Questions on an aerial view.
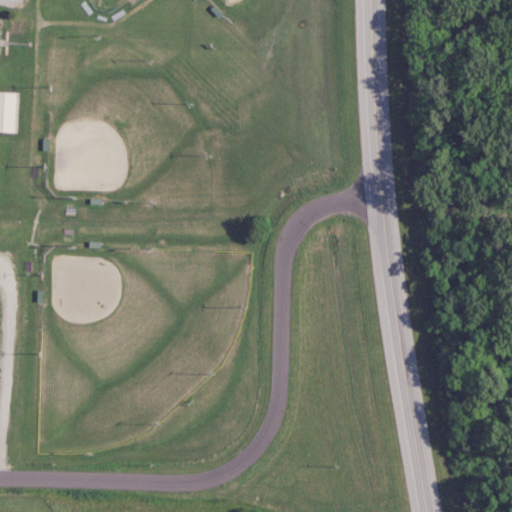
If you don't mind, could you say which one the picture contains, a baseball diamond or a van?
baseball diamond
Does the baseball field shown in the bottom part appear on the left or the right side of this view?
left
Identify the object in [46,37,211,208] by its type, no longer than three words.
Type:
baseball field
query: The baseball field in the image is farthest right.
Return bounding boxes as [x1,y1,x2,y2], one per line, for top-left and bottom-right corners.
[211,0,290,52]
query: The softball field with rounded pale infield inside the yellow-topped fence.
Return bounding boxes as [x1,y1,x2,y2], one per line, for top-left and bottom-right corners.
[39,247,252,454]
